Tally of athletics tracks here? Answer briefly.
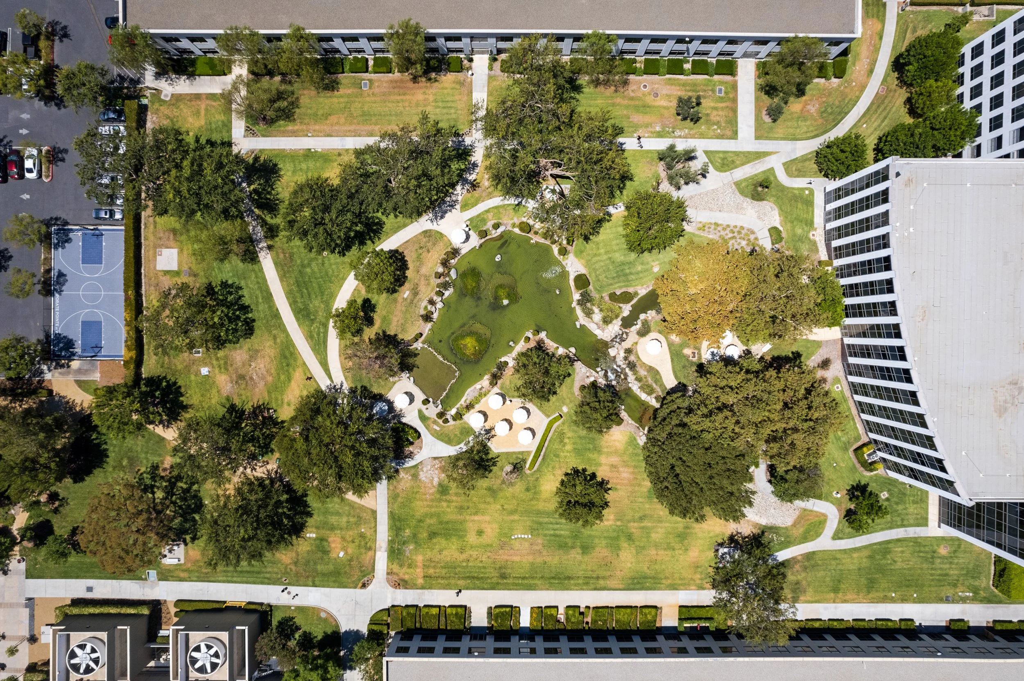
0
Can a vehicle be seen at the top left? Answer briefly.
Yes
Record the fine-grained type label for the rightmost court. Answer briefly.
basketball court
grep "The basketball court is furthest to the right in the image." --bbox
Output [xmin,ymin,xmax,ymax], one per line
[52,226,126,360]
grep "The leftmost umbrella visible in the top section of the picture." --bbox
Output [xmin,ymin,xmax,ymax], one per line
[450,228,467,244]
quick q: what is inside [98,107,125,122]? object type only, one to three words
car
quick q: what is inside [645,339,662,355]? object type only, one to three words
umbrella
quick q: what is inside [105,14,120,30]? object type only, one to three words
car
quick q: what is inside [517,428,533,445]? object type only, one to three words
umbrella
